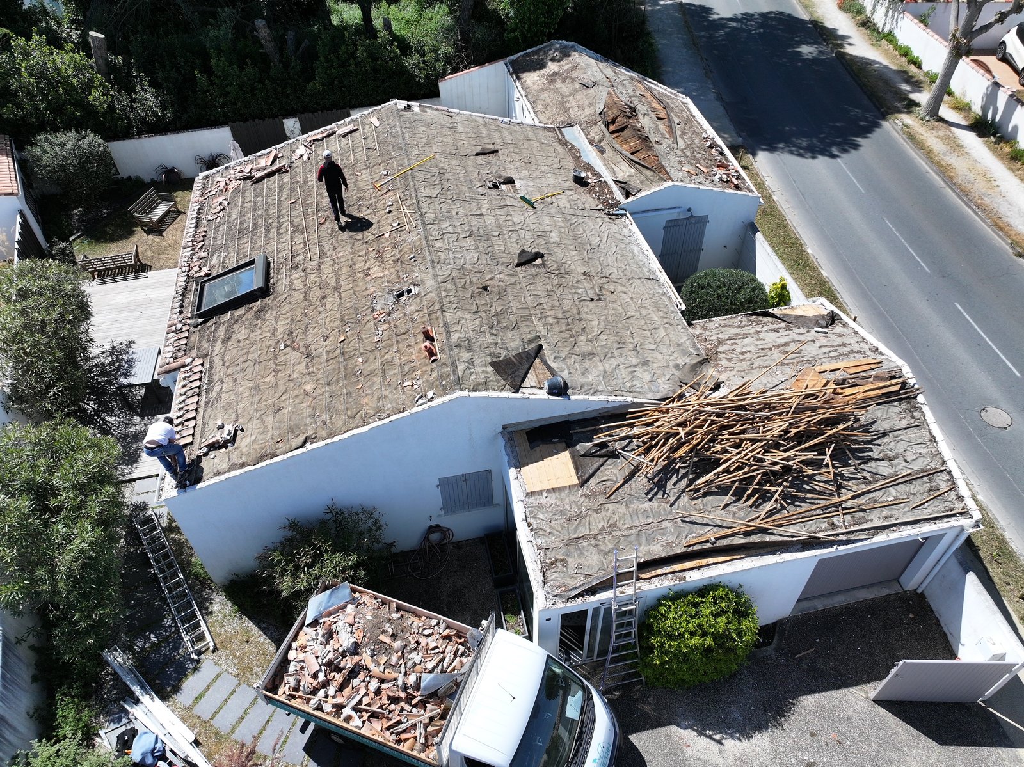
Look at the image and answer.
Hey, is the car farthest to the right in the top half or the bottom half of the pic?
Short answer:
top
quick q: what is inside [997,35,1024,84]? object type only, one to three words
car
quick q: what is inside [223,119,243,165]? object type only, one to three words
umbrella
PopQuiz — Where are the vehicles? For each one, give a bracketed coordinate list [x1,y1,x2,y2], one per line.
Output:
[997,35,1024,84]
[253,577,627,767]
